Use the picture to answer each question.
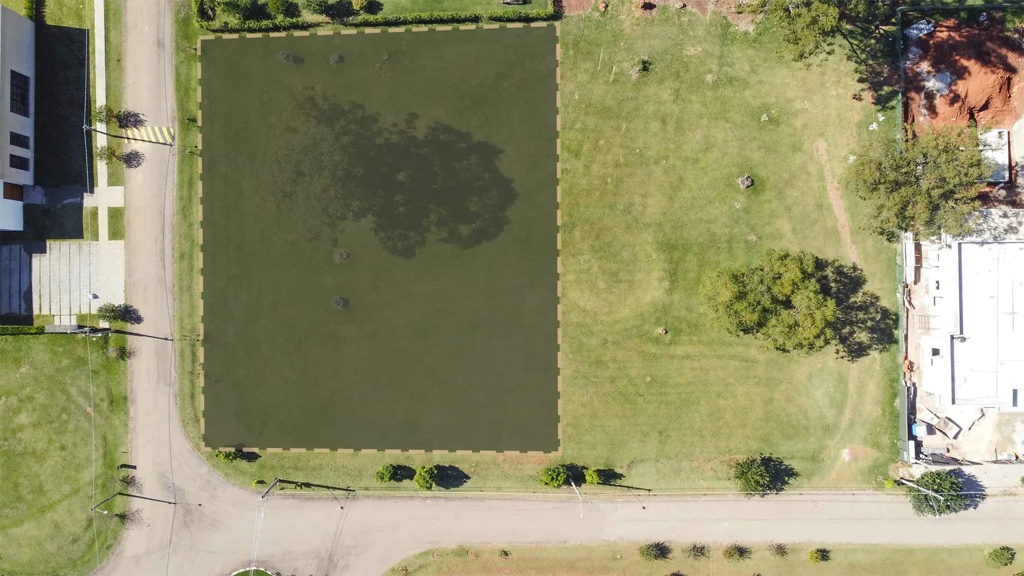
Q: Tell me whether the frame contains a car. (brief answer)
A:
No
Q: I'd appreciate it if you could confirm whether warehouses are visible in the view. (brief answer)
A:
No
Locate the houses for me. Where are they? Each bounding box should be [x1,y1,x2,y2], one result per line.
[918,212,1024,405]
[0,4,35,230]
